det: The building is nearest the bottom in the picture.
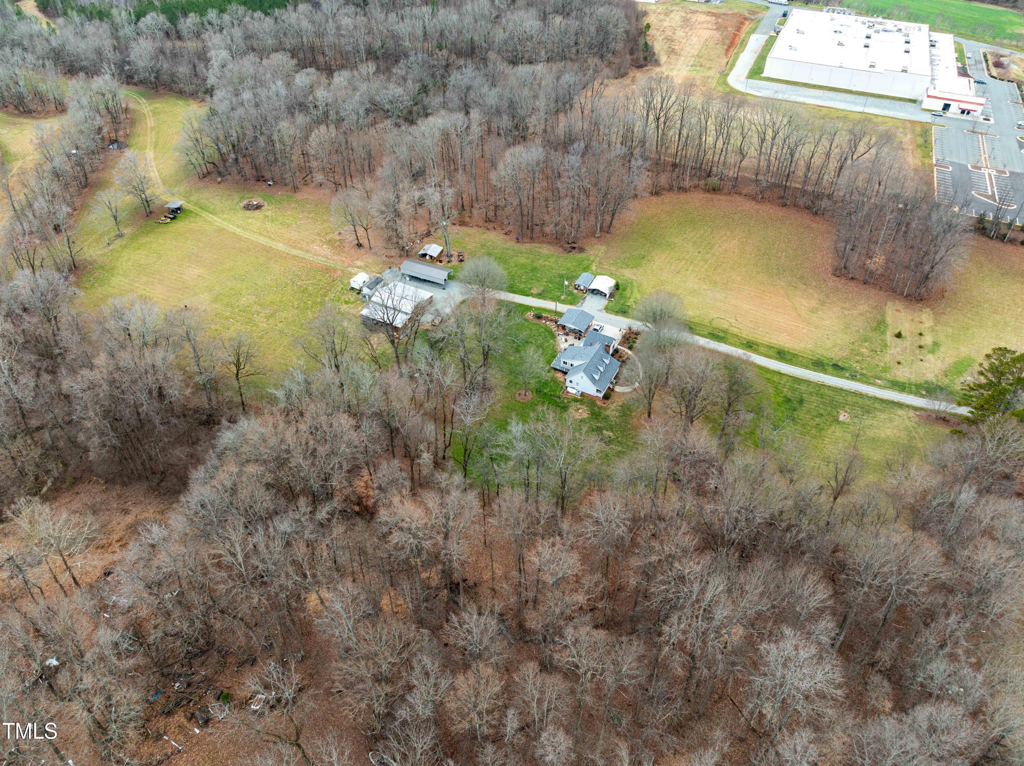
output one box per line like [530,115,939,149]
[551,329,622,400]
